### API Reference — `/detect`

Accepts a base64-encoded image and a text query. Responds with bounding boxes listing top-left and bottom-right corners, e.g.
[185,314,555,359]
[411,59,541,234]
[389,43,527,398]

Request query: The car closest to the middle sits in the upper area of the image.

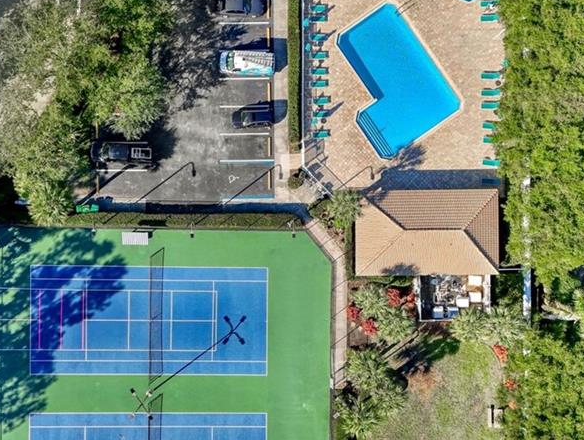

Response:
[231,103,275,126]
